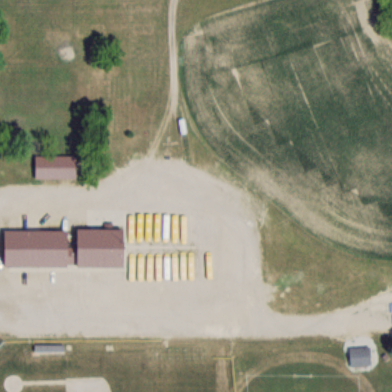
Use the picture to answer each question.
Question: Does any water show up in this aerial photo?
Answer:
No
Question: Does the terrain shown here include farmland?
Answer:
Yes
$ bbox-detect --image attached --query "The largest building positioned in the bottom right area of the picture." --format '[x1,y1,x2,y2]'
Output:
[349,348,371,368]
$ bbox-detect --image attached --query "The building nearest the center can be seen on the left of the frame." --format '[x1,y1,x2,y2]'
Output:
[76,223,123,268]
